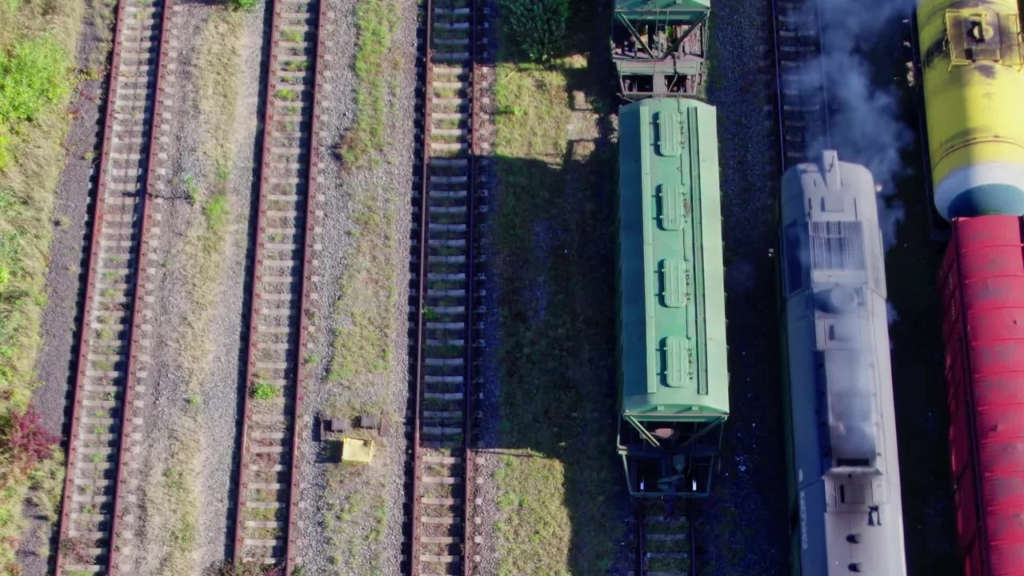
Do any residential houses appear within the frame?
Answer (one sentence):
No, the frame has no residential house in it.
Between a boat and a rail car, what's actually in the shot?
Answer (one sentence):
Of the two, only a rail car appears.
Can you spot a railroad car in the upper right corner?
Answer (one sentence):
Yes, a railroad car is visible in the upper right corner.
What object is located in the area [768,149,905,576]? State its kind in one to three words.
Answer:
rail car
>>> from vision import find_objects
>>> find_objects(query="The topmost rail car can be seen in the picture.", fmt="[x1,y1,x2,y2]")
[607,0,712,102]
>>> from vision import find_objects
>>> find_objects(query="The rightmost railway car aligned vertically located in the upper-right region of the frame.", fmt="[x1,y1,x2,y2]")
[905,0,1024,238]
